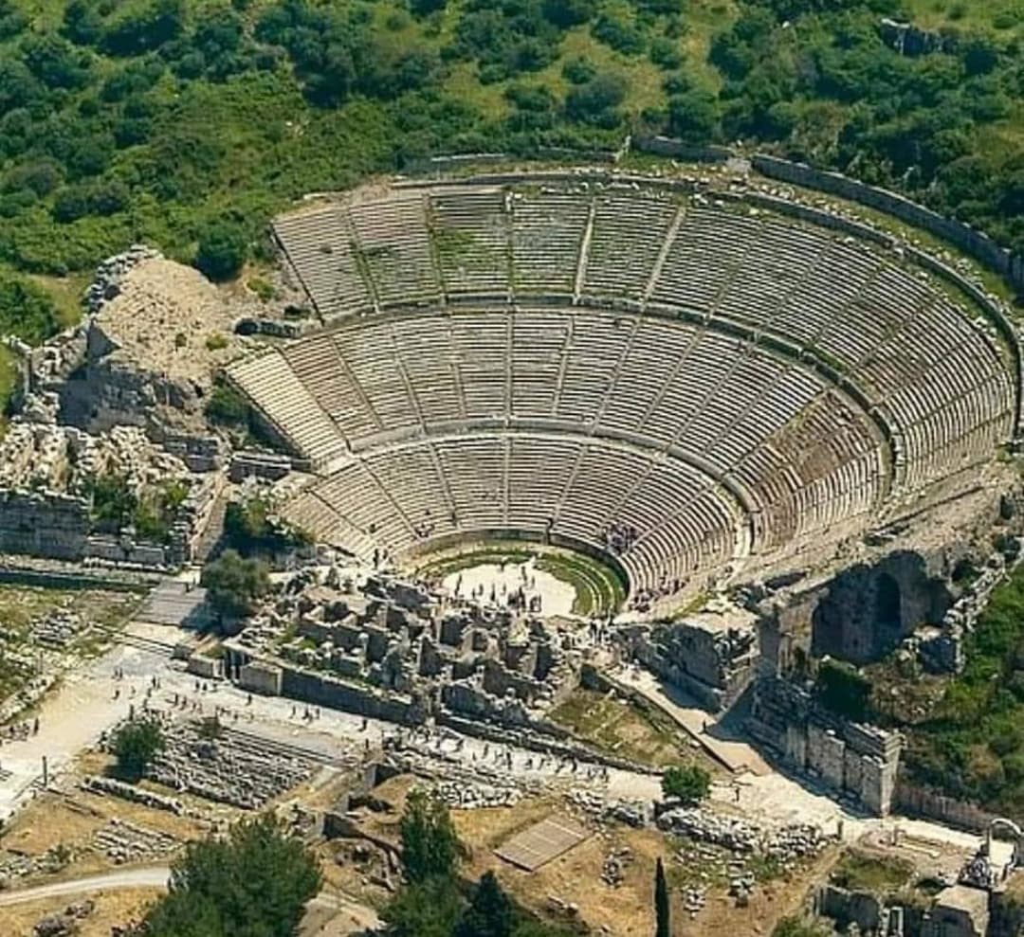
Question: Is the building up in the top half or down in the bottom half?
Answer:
bottom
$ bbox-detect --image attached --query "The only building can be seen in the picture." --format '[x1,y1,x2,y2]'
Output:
[236,581,573,746]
